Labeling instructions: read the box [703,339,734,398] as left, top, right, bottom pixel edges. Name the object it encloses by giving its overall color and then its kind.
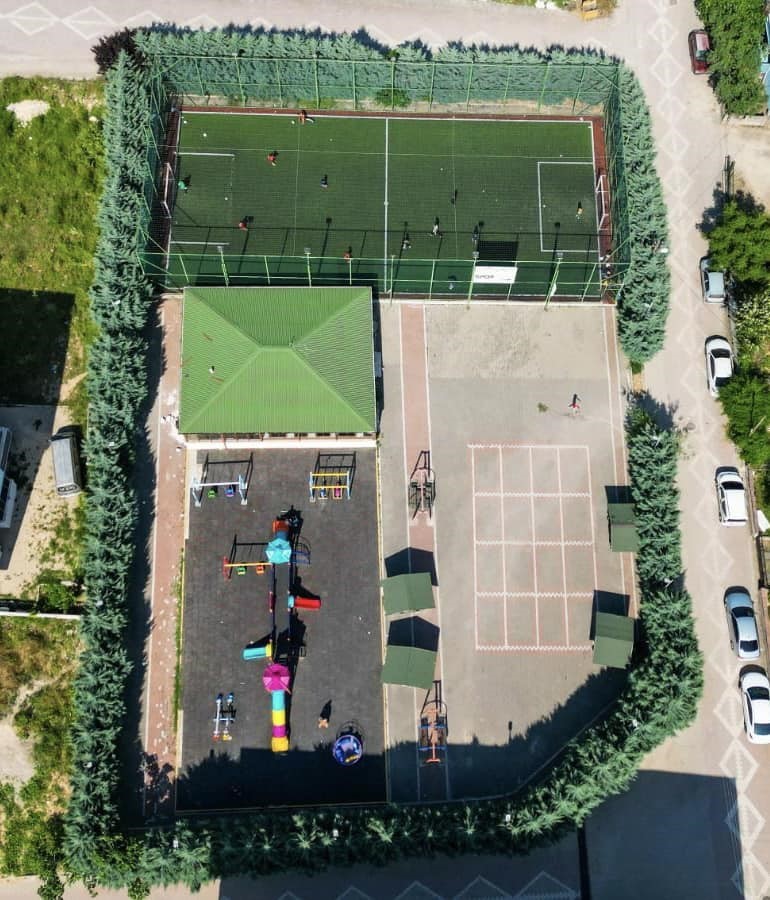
white car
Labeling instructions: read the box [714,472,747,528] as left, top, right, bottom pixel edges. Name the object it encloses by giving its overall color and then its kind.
white car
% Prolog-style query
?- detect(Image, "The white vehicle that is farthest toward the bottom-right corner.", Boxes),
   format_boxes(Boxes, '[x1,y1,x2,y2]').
[738,674,770,744]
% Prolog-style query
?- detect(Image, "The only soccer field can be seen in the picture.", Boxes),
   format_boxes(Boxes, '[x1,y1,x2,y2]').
[148,105,616,302]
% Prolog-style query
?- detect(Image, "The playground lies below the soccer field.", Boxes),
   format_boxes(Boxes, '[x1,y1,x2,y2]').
[222,514,324,752]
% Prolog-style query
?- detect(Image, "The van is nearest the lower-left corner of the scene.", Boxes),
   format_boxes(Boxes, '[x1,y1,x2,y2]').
[47,435,84,503]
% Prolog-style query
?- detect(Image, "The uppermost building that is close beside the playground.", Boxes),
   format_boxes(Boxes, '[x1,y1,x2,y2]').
[175,286,382,448]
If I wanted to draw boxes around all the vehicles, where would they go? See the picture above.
[714,472,747,528]
[738,674,770,744]
[686,29,712,76]
[47,435,84,503]
[697,257,726,307]
[703,339,734,398]
[724,594,761,662]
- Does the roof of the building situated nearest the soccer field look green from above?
Yes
